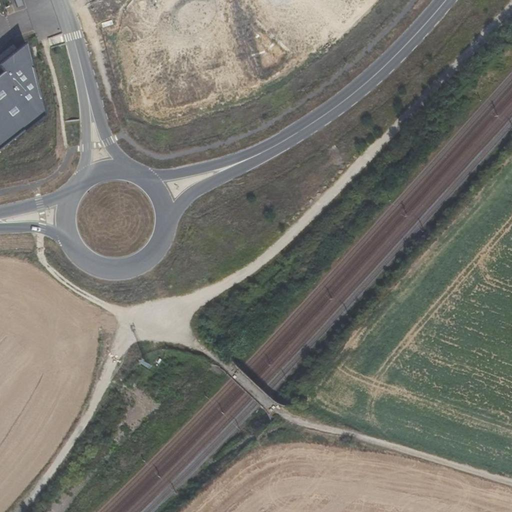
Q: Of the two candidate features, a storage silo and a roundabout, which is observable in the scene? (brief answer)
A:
roundabout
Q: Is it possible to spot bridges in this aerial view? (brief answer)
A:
Yes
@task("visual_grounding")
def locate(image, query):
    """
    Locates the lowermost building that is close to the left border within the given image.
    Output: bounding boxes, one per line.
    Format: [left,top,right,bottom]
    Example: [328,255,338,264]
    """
[0,43,48,149]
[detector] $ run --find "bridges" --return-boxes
[216,354,287,419]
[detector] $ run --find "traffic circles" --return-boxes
[56,158,176,280]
